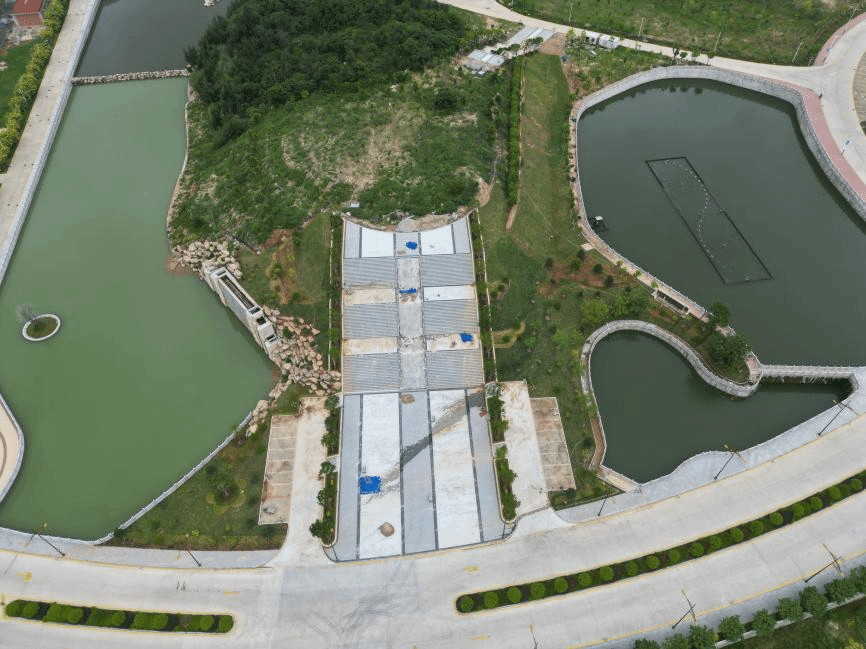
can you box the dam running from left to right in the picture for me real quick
[69,69,189,84]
